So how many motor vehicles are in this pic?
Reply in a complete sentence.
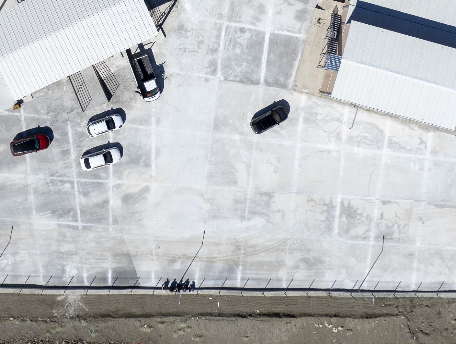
Looking from above, you can make out 5 motor vehicles.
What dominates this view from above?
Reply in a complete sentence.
Most of the picture is covered by paved ground.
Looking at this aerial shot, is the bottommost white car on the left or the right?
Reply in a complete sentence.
The bottommost white car appears in the left half of the scene.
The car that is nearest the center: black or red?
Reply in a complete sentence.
The car that is nearest the center is black.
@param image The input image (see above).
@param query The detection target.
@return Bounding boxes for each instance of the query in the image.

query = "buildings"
[319,20,456,132]
[0,0,158,101]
